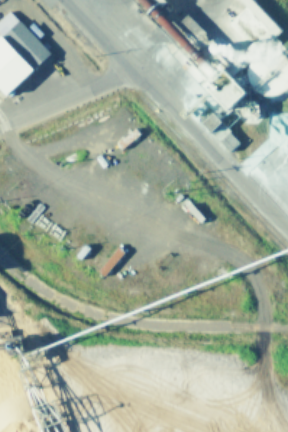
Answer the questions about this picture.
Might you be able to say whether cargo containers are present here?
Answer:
Yes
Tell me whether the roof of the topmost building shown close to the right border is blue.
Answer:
No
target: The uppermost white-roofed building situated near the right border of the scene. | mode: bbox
[192,0,283,45]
